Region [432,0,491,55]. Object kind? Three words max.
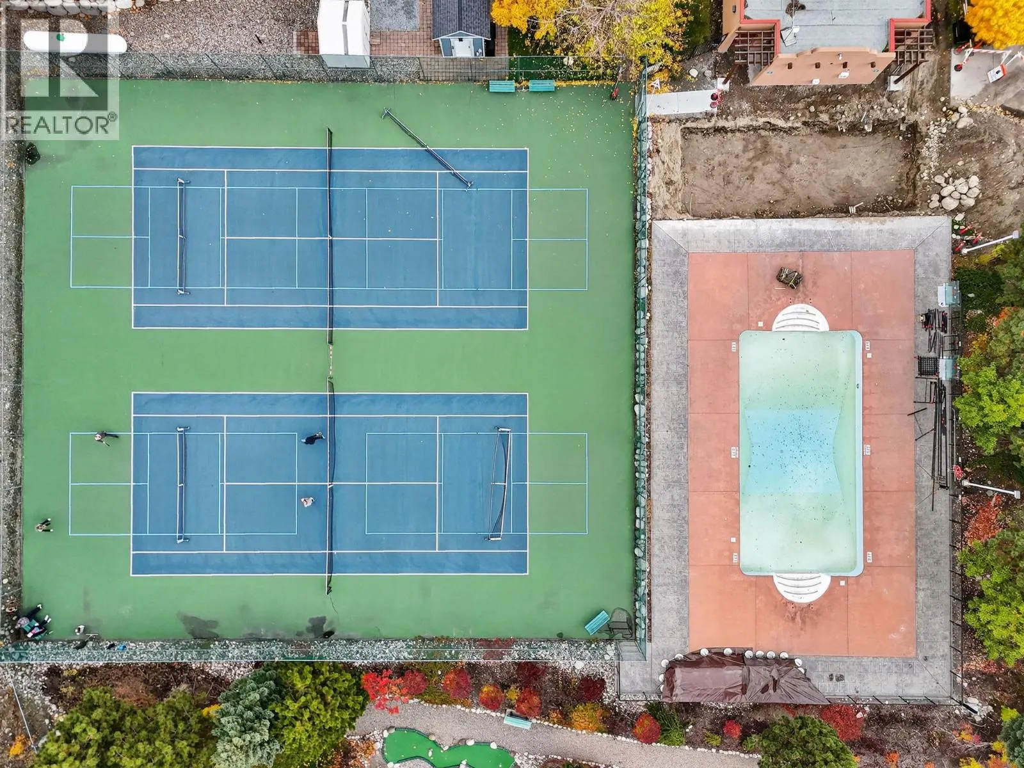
shed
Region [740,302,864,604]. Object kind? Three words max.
swimming pool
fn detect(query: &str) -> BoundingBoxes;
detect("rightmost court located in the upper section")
[366,187,588,290]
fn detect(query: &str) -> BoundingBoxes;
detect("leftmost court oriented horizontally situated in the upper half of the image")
[70,185,296,289]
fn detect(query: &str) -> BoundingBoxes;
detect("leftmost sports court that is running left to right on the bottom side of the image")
[68,433,297,535]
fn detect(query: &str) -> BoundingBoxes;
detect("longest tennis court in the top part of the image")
[131,146,529,330]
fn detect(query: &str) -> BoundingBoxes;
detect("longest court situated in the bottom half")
[130,392,529,576]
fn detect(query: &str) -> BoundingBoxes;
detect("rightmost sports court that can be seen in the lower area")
[366,433,588,535]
